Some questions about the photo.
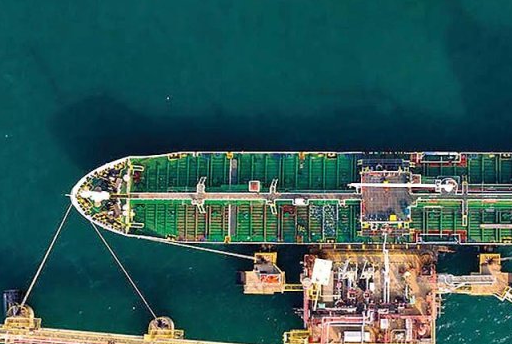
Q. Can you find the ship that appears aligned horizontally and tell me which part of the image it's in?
center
